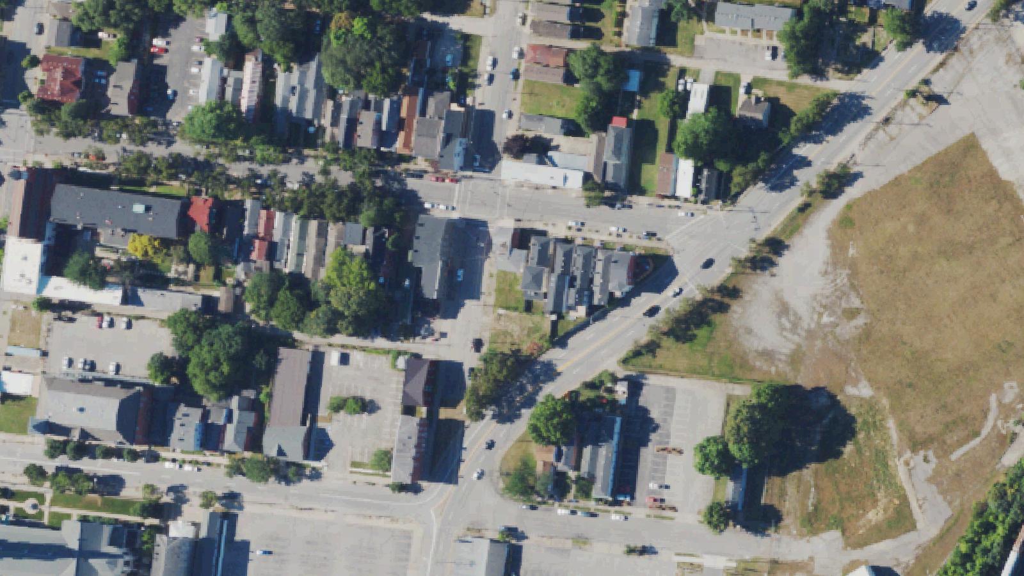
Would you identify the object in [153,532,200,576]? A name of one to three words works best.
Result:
house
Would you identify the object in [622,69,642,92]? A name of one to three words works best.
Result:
shed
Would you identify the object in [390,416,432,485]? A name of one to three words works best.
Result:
building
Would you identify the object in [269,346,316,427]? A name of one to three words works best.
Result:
building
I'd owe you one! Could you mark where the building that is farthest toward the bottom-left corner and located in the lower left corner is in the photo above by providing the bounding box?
[0,518,134,576]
